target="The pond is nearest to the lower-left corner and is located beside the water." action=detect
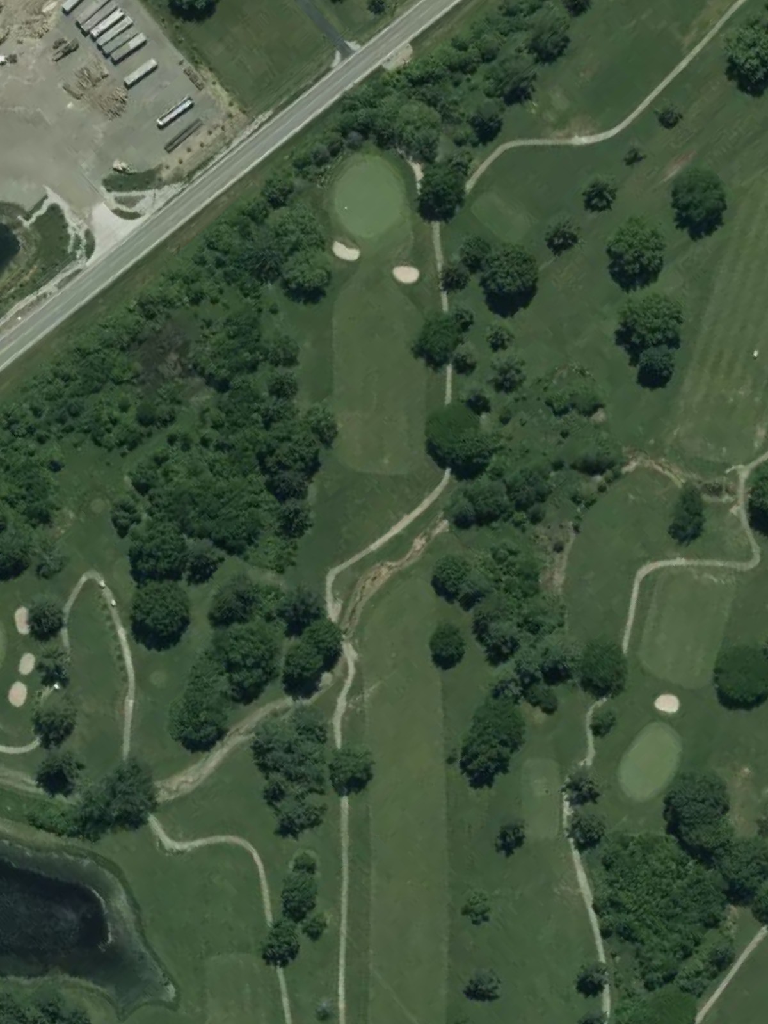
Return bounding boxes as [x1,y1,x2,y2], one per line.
[0,840,175,1013]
